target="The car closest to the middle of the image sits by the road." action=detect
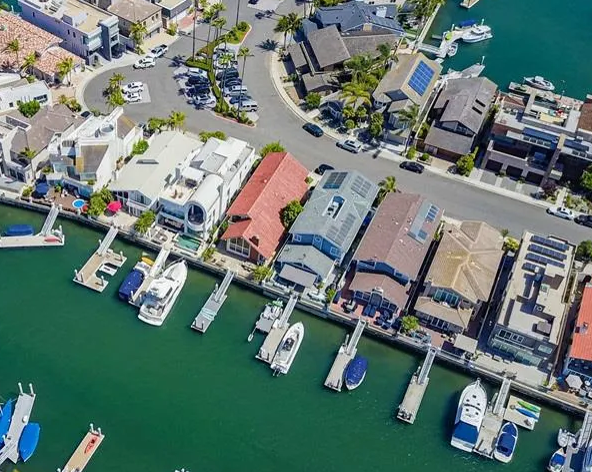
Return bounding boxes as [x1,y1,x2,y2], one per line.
[313,163,336,175]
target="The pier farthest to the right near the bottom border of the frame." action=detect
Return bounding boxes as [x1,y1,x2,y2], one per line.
[562,406,592,472]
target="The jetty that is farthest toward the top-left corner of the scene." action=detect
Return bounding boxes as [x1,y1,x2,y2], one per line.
[0,202,65,248]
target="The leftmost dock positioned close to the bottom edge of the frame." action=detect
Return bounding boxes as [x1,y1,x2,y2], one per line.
[0,386,36,463]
